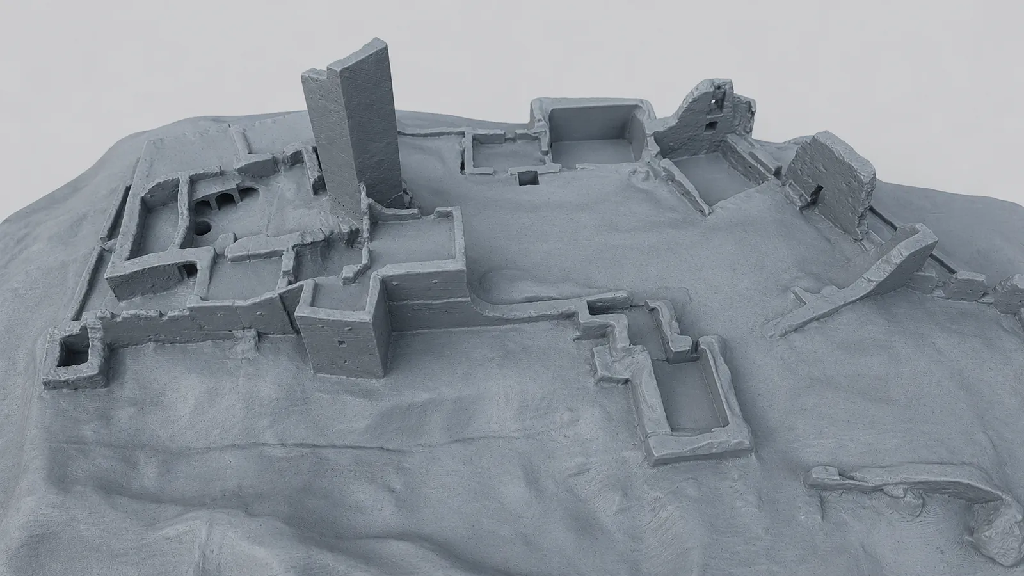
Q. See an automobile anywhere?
No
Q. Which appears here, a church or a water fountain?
church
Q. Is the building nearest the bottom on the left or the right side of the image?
right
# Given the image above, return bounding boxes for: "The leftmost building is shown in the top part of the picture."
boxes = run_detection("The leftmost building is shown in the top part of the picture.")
[106,112,337,302]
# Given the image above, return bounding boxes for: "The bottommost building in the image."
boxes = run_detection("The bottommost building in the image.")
[592,337,753,462]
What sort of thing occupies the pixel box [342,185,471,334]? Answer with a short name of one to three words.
building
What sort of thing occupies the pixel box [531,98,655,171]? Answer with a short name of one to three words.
building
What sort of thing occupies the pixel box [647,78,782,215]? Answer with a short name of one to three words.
church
